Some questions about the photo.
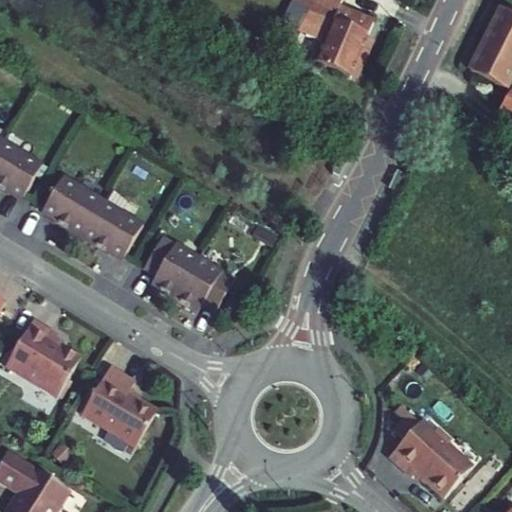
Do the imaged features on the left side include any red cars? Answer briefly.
No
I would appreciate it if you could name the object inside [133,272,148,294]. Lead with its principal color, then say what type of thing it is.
white car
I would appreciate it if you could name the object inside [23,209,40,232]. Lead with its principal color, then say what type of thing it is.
white vehicle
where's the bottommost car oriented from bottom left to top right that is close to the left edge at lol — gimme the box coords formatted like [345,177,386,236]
[15,308,33,328]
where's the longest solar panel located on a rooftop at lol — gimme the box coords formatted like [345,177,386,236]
[94,397,141,428]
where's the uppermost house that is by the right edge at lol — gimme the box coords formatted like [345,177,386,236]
[468,4,512,91]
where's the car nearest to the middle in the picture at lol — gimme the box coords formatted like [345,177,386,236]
[196,310,210,332]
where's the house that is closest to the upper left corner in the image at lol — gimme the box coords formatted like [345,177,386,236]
[0,138,43,198]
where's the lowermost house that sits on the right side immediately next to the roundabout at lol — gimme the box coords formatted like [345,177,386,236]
[389,419,474,498]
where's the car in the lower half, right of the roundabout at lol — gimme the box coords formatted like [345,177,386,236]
[409,484,432,504]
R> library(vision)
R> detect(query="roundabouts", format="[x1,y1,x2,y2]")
[212,340,361,496]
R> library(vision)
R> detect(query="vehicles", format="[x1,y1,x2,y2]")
[409,484,432,504]
[15,308,33,328]
[23,209,40,232]
[355,0,379,12]
[133,272,148,294]
[196,310,210,332]
[2,196,16,218]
